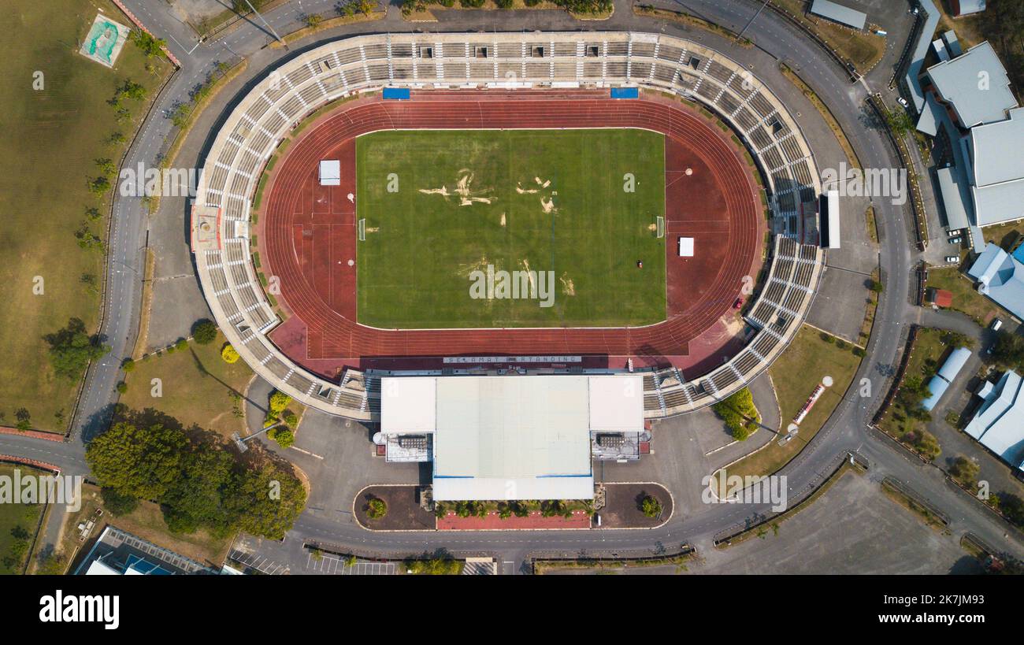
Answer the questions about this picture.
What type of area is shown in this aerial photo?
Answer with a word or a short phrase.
sports ground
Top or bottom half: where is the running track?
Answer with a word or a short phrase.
top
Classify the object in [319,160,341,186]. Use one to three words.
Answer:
tent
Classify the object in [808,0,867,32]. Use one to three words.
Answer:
shed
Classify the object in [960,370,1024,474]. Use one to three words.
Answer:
building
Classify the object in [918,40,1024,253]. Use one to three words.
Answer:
building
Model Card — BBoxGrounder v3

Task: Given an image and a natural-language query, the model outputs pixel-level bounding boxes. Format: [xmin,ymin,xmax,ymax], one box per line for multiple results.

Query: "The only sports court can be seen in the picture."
[79,14,130,68]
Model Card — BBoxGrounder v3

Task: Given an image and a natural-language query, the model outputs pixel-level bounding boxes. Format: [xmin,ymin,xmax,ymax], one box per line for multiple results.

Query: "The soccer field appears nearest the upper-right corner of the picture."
[356,129,668,328]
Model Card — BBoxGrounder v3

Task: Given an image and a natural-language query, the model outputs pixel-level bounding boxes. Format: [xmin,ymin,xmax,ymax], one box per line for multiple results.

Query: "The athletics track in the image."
[265,91,757,359]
